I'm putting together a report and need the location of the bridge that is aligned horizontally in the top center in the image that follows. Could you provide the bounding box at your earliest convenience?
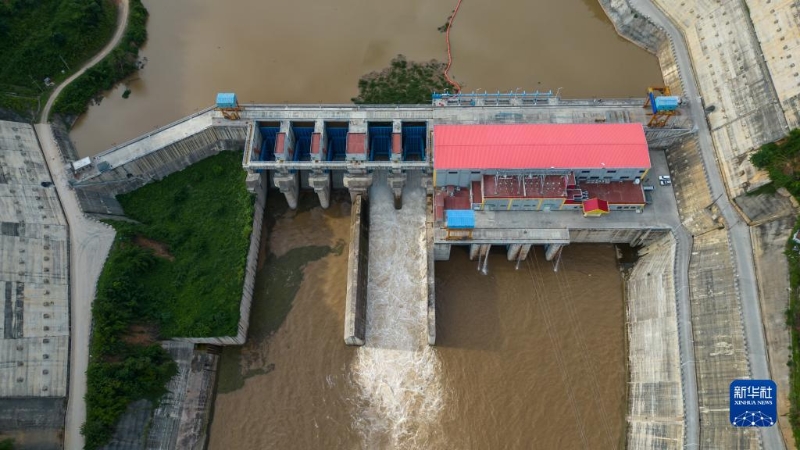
[244,104,435,122]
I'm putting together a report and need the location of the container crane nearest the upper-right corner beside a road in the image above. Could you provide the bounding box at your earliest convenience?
[636,86,682,125]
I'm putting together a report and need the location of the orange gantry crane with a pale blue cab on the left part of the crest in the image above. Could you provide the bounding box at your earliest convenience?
[216,94,244,120]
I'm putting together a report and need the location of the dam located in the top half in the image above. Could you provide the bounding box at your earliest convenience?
[73,89,700,209]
